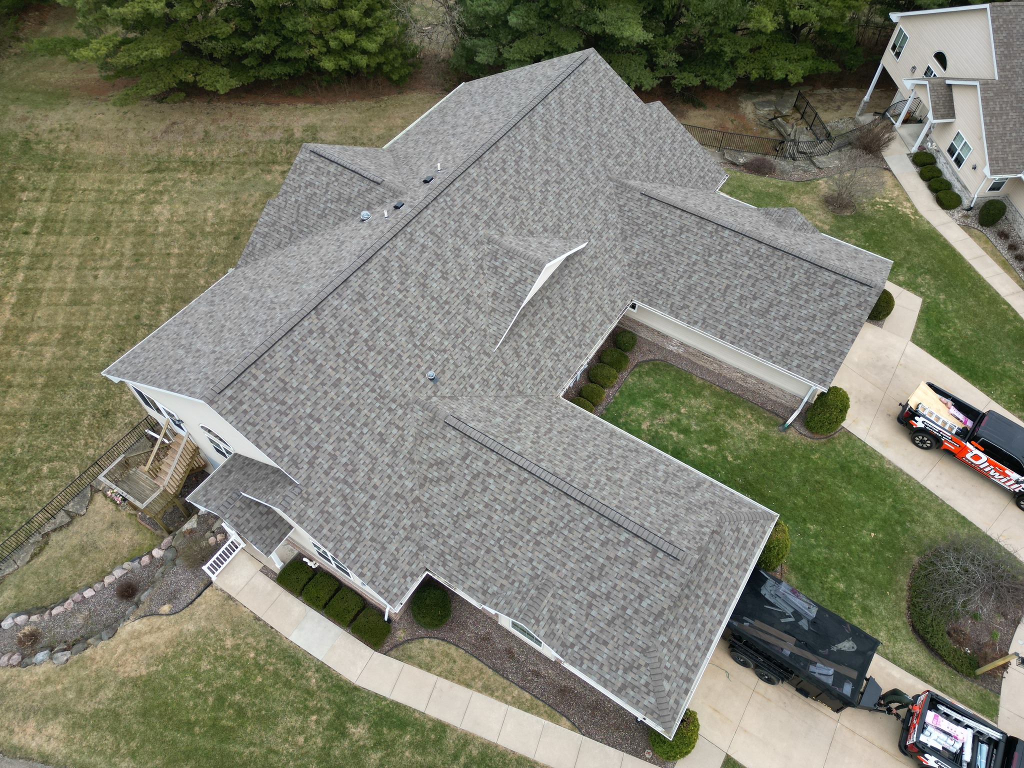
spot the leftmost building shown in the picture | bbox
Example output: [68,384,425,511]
[101,49,894,741]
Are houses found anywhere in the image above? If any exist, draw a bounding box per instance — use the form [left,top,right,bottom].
[101,49,894,741]
[856,3,1024,247]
